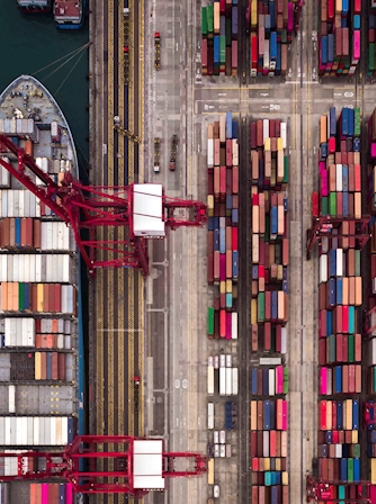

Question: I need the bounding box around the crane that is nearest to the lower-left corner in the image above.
[0,428,208,495]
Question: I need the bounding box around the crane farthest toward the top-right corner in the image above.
[308,212,372,252]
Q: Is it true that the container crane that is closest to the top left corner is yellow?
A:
No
